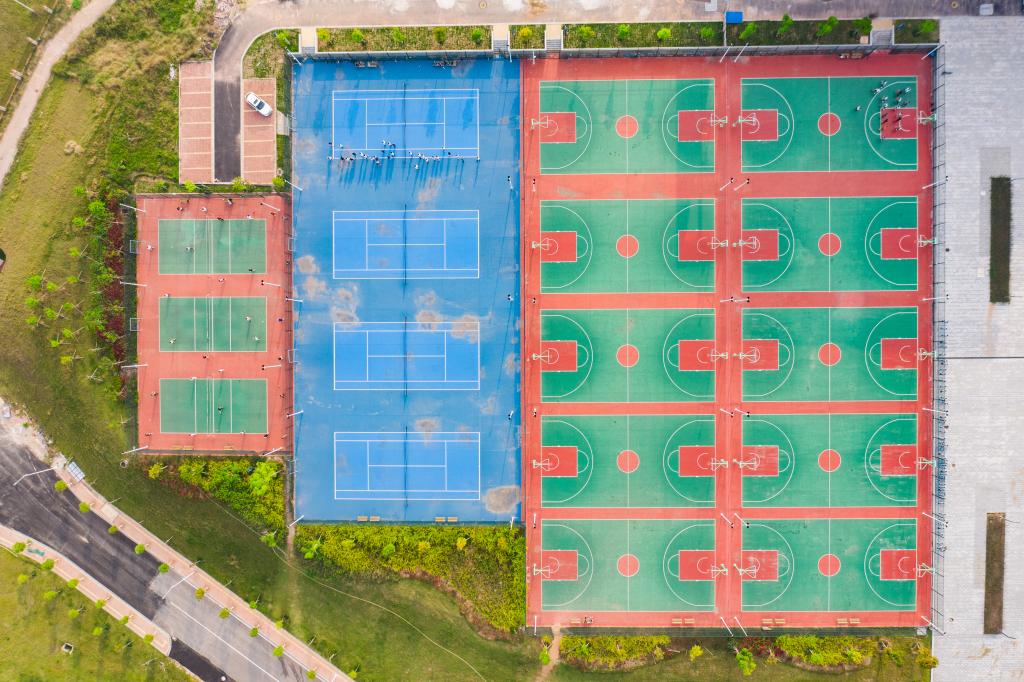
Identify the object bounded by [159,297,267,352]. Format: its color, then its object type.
green sports court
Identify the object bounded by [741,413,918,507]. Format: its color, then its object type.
green basketball court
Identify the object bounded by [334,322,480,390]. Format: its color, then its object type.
blue tennis court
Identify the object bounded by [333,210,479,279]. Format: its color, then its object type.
blue tennis court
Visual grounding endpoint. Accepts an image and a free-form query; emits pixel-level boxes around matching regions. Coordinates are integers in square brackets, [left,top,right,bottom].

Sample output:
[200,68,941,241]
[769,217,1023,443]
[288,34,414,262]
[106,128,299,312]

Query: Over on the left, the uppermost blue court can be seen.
[333,89,479,159]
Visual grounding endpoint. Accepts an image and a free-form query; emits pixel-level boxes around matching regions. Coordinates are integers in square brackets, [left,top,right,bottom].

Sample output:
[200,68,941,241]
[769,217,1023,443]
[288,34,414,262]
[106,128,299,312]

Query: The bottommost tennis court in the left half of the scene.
[334,432,480,500]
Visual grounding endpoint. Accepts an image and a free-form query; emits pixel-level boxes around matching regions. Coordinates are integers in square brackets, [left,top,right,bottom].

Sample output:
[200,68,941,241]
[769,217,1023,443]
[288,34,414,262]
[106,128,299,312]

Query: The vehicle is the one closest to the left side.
[245,91,273,117]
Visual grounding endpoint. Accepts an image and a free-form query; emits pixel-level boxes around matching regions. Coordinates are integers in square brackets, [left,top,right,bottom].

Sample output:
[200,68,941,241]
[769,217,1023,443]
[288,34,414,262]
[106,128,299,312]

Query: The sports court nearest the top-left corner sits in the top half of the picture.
[159,219,267,275]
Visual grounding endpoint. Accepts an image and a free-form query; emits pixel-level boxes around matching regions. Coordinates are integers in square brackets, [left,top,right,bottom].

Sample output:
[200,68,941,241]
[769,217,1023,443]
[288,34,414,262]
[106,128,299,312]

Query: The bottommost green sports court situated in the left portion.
[160,379,268,434]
